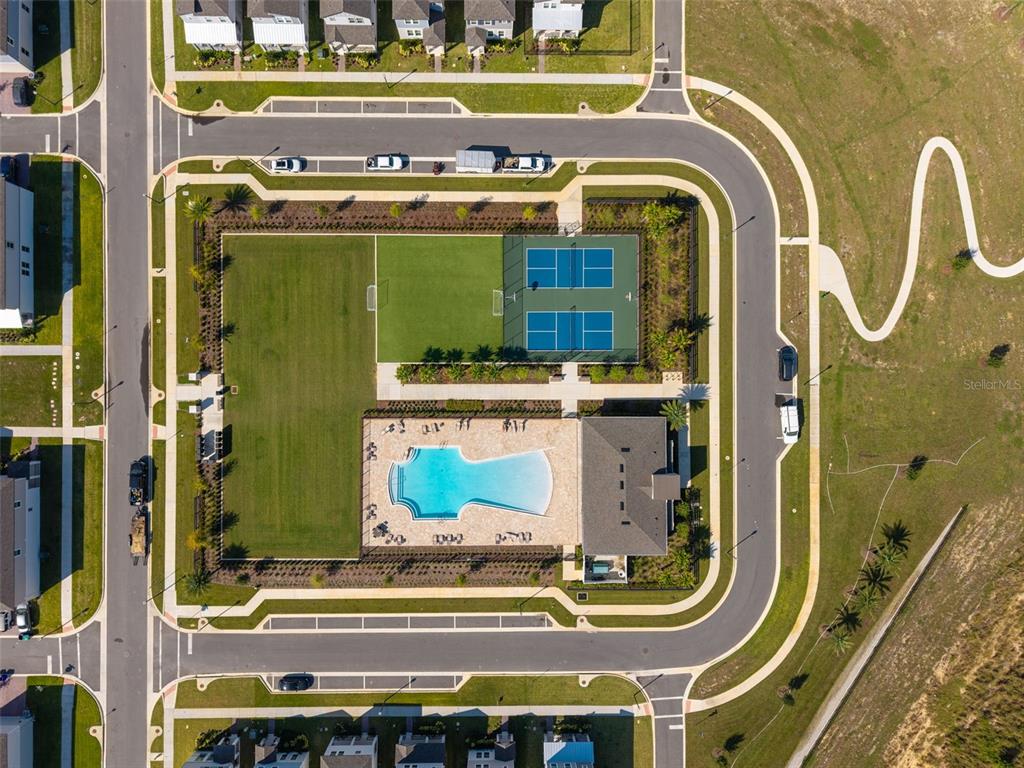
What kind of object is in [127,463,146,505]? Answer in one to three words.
vehicle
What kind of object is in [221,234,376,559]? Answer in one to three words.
sports field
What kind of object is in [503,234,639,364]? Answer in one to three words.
sports court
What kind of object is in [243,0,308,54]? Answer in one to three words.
house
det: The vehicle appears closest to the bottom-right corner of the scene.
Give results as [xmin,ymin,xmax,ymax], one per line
[779,405,800,444]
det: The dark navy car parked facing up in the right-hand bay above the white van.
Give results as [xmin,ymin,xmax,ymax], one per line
[780,347,797,380]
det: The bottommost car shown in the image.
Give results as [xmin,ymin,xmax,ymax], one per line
[281,674,313,691]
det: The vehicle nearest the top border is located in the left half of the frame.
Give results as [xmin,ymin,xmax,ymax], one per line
[11,77,29,106]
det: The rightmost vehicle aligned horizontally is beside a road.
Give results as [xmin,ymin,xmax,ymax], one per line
[503,155,544,173]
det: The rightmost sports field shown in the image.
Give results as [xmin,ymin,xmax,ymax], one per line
[376,234,503,363]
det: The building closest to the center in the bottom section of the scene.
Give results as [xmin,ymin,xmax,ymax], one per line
[581,416,680,557]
